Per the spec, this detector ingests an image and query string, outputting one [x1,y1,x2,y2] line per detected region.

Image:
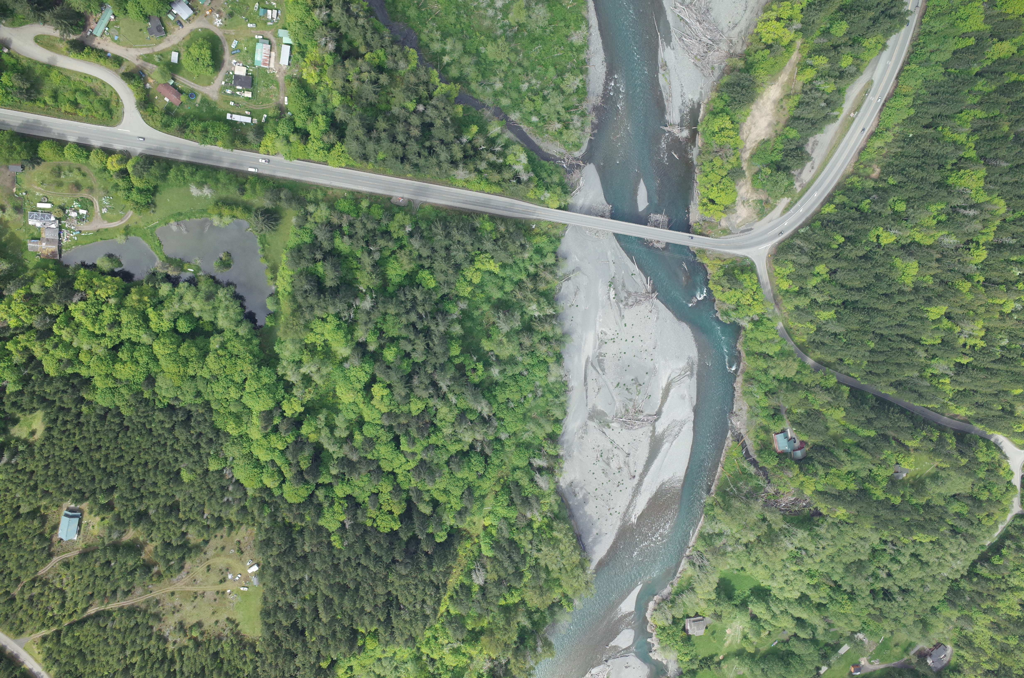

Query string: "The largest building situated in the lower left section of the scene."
[59,516,82,538]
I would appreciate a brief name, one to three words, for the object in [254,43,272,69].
barn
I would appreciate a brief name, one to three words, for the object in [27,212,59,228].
house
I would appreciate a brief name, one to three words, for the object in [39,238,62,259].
house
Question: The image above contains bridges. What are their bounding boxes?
[564,211,695,248]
